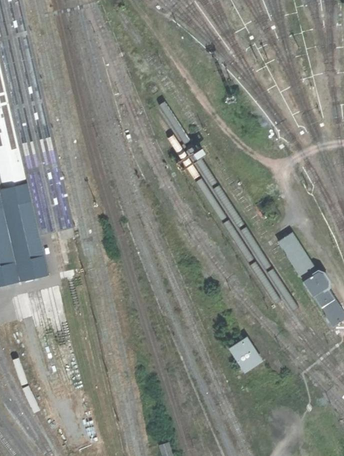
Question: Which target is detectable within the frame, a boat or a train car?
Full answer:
Of the two, only a train car appears.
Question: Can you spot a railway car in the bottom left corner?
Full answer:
Yes, there is a railway car in the bottom left corner.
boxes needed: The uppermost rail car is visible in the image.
[160,100,190,144]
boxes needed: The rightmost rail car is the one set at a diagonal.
[268,268,298,312]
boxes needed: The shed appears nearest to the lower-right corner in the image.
[230,337,264,374]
